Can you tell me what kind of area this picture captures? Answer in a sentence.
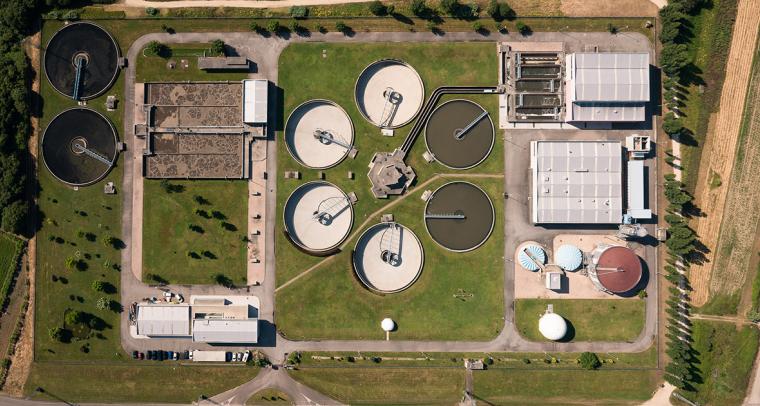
It's an industrial area.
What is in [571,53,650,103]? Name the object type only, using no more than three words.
building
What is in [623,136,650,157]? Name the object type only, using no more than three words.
building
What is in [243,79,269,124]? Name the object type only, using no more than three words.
house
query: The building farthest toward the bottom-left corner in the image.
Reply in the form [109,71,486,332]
[137,304,191,335]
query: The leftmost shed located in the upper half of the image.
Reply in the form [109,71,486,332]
[198,57,250,71]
